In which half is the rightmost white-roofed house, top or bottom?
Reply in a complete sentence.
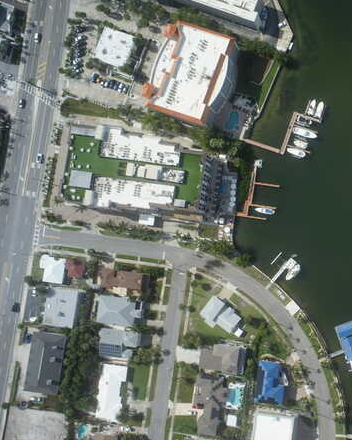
The rightmost white-roofed house sits in the bottom half of the picture.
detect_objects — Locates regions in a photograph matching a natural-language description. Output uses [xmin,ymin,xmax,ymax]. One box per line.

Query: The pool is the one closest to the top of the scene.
[223,110,241,132]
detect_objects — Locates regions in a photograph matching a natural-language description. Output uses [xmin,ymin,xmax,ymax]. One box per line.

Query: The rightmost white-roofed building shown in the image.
[253,411,296,440]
